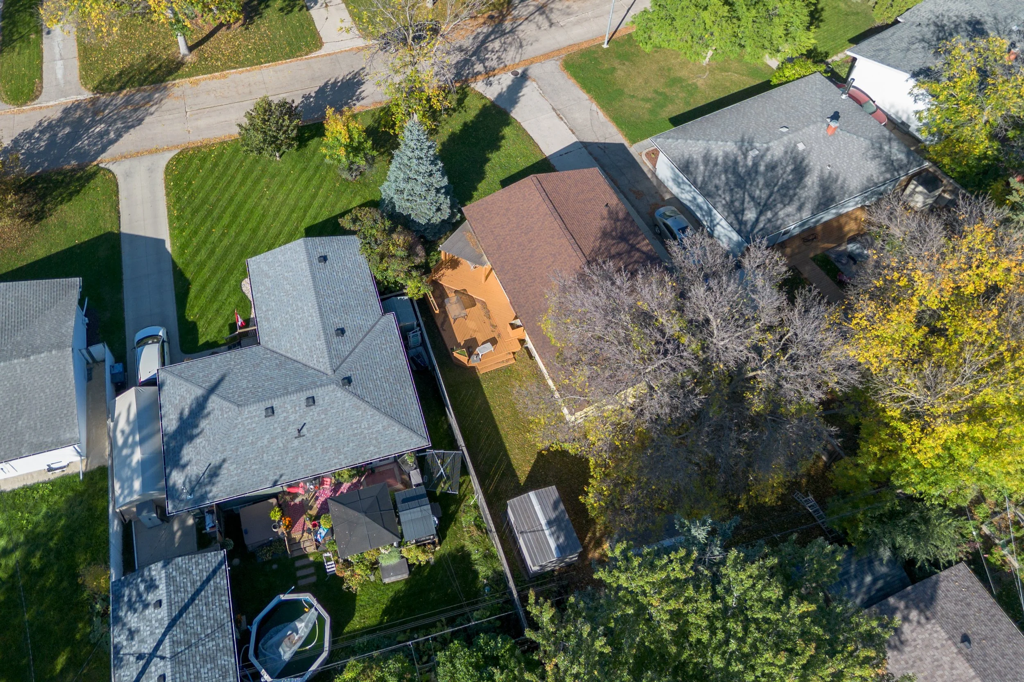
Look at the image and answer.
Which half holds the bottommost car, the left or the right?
left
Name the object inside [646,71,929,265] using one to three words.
house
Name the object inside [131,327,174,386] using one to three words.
car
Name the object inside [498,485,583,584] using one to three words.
shed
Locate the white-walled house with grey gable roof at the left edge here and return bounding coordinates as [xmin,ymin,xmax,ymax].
[0,278,114,483]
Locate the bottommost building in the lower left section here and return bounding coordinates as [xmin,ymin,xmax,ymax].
[103,549,239,682]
